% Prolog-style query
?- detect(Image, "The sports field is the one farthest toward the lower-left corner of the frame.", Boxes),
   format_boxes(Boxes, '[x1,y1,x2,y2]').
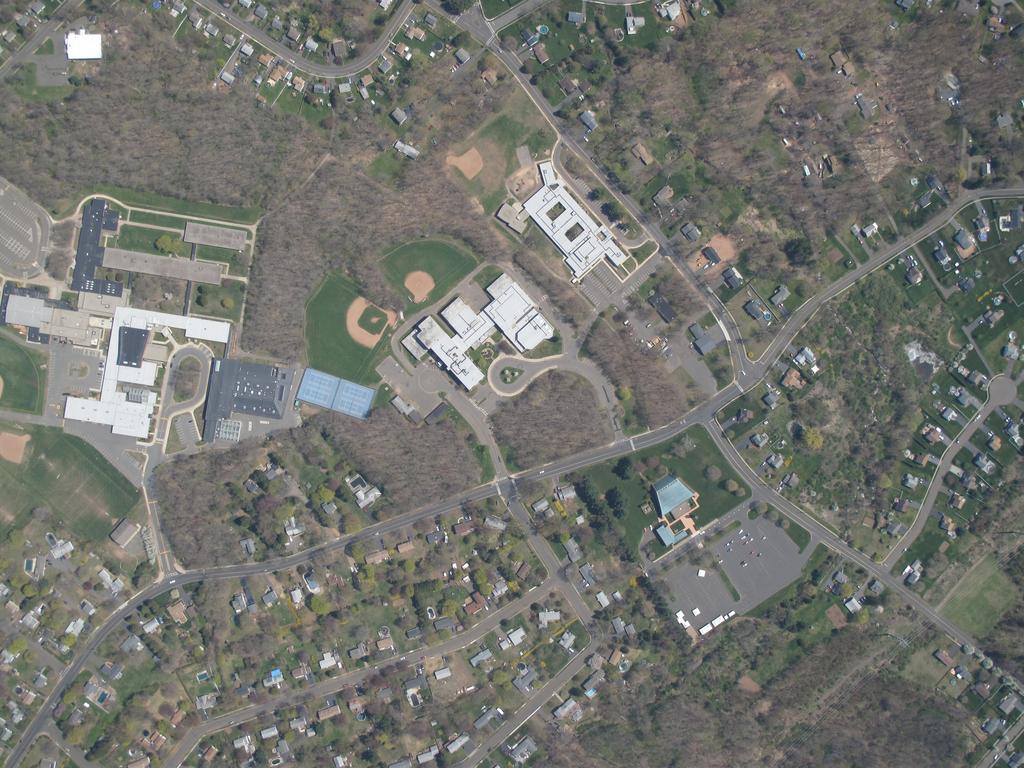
[0,424,139,545]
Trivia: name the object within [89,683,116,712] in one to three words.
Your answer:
swimming pool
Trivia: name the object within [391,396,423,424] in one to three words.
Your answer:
shed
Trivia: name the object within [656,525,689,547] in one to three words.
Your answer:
building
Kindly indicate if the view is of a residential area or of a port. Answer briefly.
residential area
